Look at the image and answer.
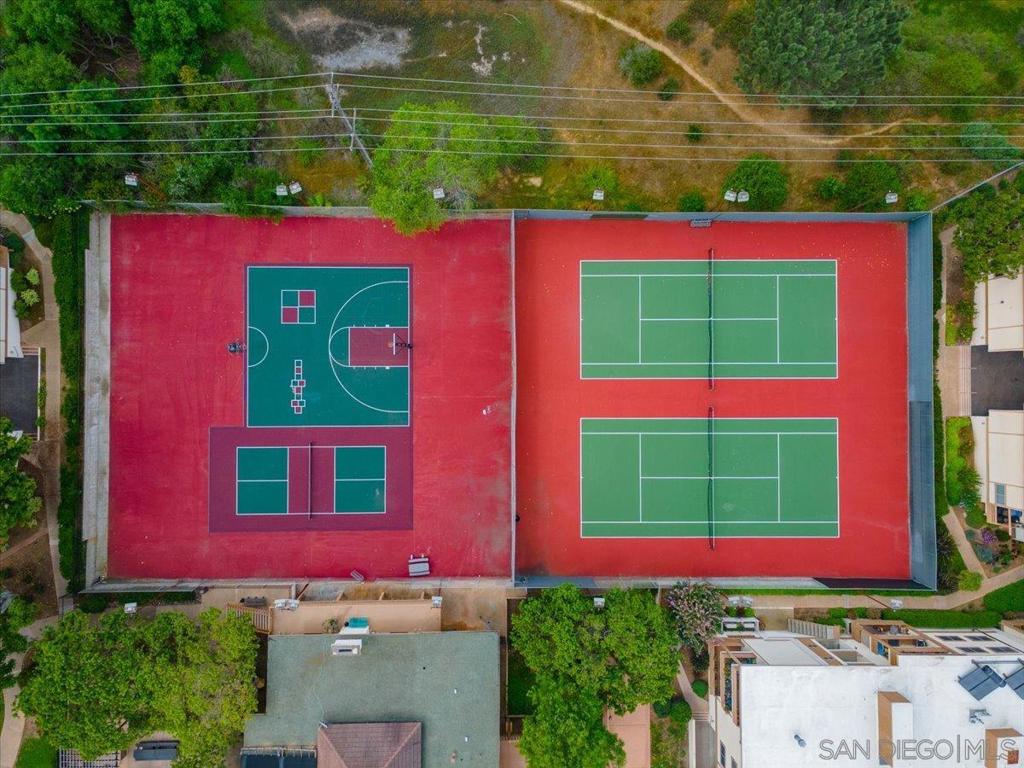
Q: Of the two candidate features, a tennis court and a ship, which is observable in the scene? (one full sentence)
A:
The image shows a tennis court.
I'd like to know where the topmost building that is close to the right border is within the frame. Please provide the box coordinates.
[966,274,1024,351]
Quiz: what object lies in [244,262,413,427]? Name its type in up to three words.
basketball court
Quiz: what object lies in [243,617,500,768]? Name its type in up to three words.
building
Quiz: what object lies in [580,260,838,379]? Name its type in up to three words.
tennis court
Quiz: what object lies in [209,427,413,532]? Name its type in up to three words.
sports court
